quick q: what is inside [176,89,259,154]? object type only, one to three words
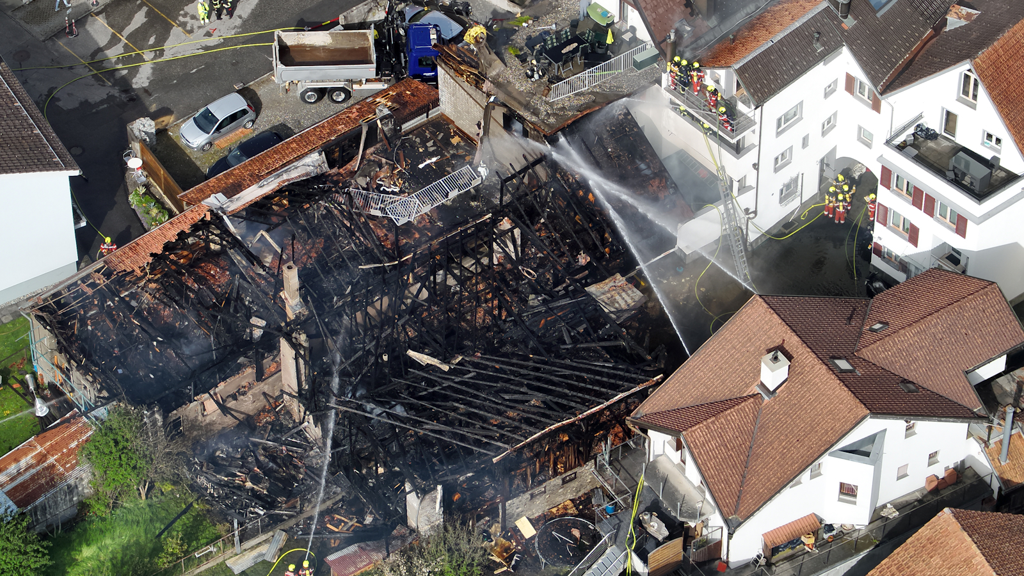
car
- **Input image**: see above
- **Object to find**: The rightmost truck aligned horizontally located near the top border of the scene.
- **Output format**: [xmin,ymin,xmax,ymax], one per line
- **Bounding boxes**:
[270,0,456,103]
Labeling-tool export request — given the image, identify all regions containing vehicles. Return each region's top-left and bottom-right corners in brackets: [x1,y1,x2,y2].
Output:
[866,266,894,292]
[176,89,259,154]
[208,123,287,176]
[270,0,456,103]
[413,12,468,49]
